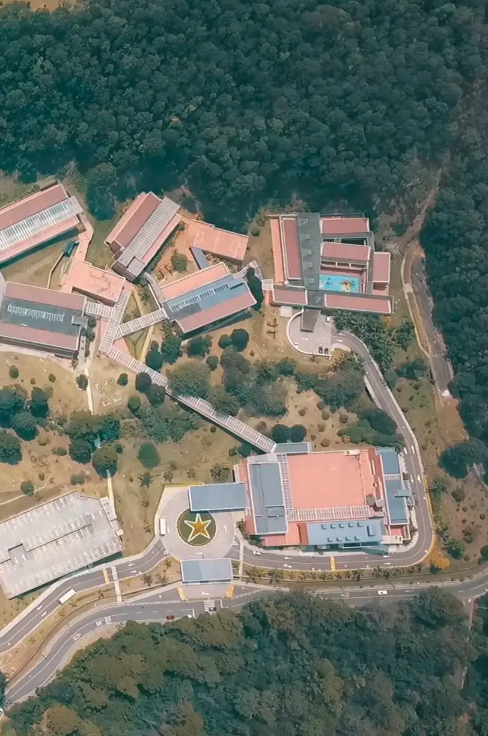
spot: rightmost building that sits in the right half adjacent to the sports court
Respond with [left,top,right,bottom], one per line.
[265,209,393,318]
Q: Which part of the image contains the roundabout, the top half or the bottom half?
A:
bottom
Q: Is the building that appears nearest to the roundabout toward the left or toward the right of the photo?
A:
right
